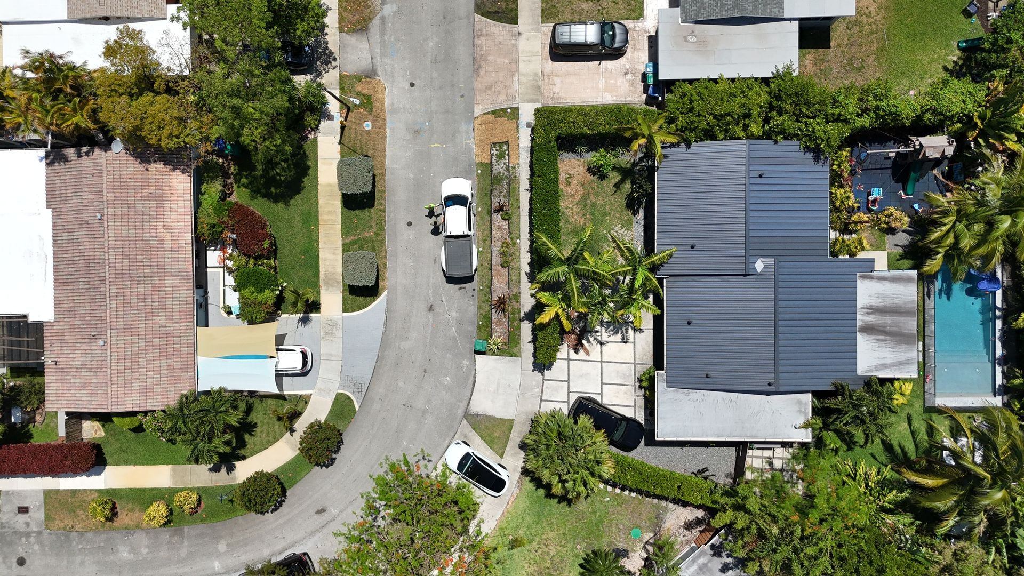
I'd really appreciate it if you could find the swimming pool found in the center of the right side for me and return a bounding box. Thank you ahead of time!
[926,255,1010,410]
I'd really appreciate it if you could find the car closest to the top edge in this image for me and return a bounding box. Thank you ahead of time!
[549,15,631,56]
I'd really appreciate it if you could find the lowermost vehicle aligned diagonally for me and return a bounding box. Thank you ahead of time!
[441,439,516,500]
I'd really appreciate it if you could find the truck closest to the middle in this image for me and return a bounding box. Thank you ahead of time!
[437,179,480,276]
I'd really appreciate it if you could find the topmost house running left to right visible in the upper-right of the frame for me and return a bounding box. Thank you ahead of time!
[657,0,855,83]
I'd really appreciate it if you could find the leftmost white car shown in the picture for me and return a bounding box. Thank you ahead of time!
[274,345,315,375]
